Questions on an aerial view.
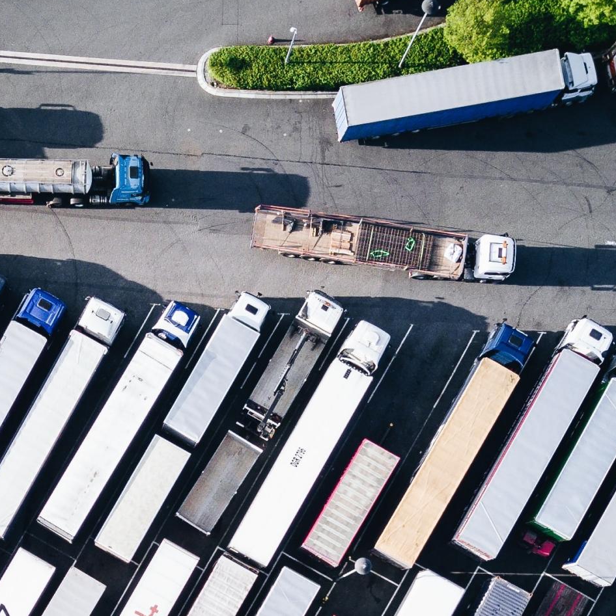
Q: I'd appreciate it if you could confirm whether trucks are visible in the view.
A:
Yes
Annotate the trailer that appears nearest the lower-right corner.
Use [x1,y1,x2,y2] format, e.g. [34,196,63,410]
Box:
[536,582,588,616]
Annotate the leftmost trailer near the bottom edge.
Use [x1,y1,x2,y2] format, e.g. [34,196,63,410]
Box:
[0,548,56,616]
